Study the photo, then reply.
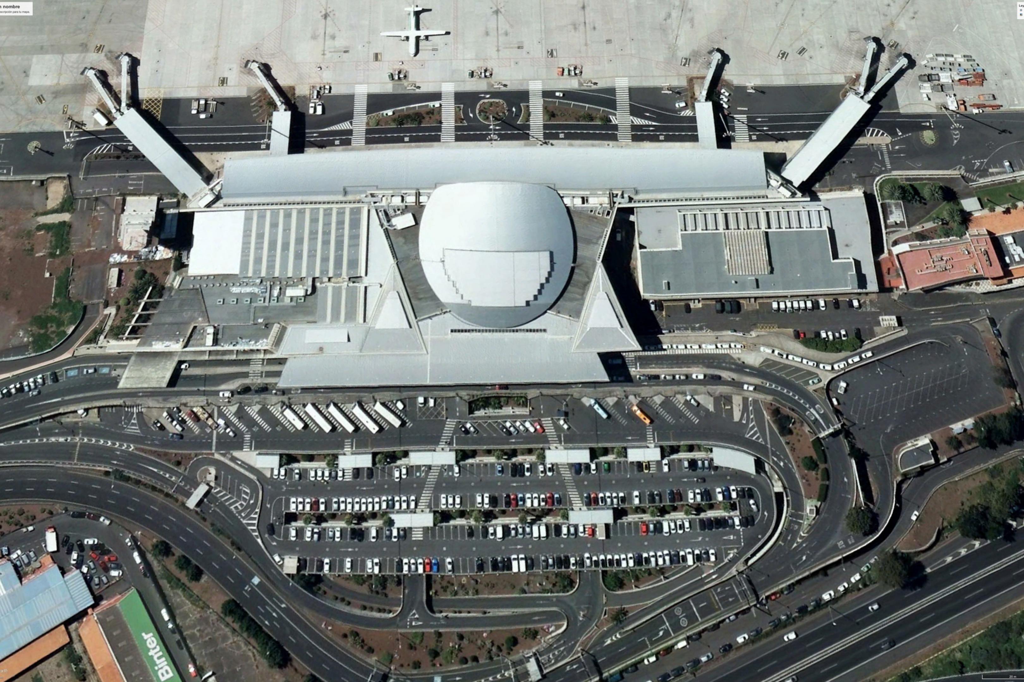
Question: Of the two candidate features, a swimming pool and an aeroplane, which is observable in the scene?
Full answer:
I can see an aeroplane in this picture.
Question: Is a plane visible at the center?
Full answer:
No, looking at the center, there is no plane.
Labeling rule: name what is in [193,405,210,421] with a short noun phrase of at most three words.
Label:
vehicle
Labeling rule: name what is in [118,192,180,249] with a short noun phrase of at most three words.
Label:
building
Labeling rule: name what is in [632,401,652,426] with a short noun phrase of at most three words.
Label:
bus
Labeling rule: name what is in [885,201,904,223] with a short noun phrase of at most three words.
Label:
shed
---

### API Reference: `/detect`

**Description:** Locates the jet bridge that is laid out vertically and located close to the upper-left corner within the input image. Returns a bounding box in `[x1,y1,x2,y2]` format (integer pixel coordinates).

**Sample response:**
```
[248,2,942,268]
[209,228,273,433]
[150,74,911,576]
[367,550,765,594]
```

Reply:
[112,47,135,112]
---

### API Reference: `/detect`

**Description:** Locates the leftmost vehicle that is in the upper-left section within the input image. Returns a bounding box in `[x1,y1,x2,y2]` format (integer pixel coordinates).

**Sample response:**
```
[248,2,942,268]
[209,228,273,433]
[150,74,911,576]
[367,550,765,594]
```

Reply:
[93,109,109,126]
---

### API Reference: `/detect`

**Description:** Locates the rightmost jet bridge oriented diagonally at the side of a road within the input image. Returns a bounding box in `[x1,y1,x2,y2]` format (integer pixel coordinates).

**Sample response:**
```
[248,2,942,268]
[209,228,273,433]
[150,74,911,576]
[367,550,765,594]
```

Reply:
[860,46,909,101]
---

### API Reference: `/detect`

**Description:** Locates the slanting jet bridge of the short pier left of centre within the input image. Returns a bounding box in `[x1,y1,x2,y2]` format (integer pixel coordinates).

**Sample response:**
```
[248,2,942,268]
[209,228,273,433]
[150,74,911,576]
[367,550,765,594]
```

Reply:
[239,53,288,111]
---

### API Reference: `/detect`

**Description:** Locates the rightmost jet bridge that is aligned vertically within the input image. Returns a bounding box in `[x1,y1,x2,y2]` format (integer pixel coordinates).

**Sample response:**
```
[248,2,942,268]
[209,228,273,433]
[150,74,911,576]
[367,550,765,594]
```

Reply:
[855,31,878,93]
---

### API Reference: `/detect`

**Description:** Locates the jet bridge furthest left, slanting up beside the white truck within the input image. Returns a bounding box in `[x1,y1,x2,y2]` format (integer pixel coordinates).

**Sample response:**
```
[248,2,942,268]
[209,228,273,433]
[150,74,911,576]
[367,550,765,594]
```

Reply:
[77,63,123,118]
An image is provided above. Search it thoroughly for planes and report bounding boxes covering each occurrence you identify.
[381,6,446,56]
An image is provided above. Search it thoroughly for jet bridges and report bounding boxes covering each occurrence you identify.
[860,46,909,101]
[855,31,878,93]
[112,47,135,112]
[698,43,723,101]
[239,53,288,111]
[77,63,123,118]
